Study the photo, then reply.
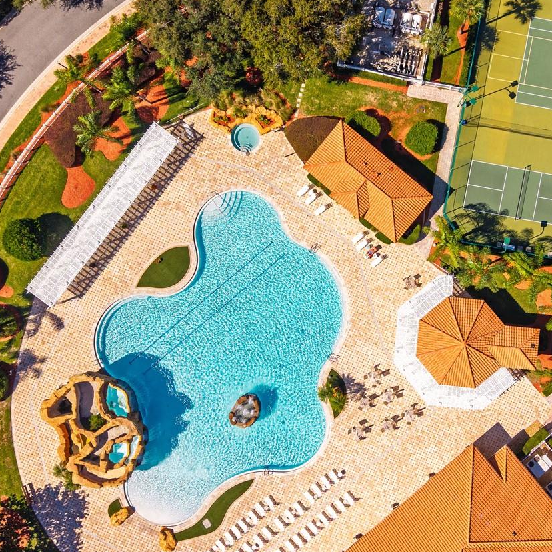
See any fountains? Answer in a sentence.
Yes, the frame does contain a fountain.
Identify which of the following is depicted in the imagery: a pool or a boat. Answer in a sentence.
It is a pool that can be seen here.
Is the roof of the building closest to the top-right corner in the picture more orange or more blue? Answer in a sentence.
In this view, the roof of the building closest to the top-right corner is orange.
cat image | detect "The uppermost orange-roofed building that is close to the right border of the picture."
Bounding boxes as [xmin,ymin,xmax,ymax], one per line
[416,296,541,388]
